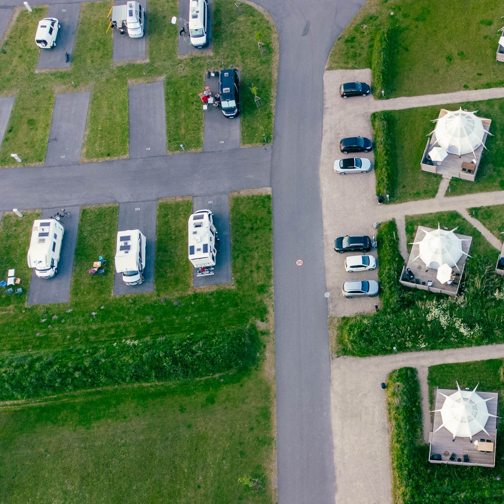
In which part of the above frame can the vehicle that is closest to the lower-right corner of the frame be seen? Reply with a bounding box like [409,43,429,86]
[343,278,379,298]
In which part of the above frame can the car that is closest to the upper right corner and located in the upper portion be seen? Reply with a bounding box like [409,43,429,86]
[339,82,370,100]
